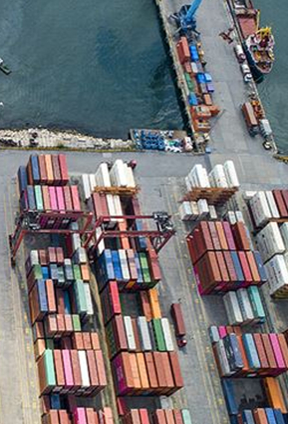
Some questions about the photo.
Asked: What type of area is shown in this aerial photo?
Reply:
port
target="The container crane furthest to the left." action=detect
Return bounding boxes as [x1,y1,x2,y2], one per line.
[11,209,98,262]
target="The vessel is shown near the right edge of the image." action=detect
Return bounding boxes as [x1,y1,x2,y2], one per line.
[224,0,280,79]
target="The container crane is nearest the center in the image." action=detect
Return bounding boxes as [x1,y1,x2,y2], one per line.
[83,214,177,260]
